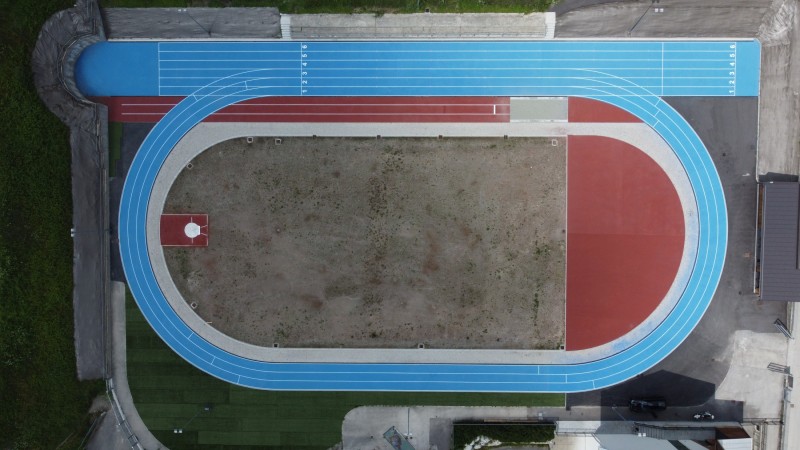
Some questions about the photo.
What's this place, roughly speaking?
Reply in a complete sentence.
It's a sports ground.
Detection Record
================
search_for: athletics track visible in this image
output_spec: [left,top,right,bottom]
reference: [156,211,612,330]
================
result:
[77,41,758,392]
